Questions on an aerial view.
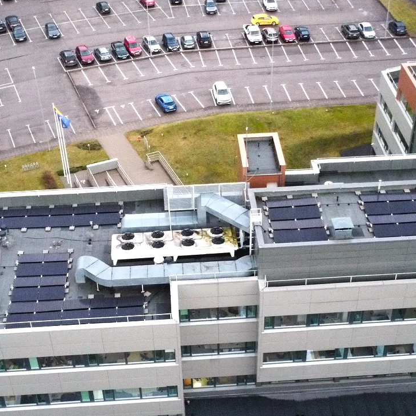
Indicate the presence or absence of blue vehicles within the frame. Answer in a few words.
Yes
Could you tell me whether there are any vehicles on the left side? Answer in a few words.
Yes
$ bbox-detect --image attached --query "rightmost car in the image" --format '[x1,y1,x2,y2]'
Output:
[388,22,408,38]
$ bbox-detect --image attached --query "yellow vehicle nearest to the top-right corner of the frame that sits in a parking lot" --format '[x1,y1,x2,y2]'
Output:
[250,14,280,27]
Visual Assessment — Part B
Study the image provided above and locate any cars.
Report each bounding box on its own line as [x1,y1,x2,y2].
[3,16,20,31]
[262,29,280,45]
[94,48,113,65]
[110,42,131,62]
[60,51,78,68]
[340,24,361,42]
[11,26,28,44]
[250,14,280,27]
[154,94,178,116]
[96,3,112,17]
[161,31,182,53]
[279,26,296,44]
[212,81,231,105]
[356,23,377,41]
[122,34,143,57]
[294,28,311,43]
[262,0,278,12]
[204,0,219,16]
[75,44,95,66]
[196,32,213,49]
[388,22,408,38]
[44,23,63,41]
[141,36,163,56]
[181,33,196,53]
[171,0,182,6]
[0,19,7,35]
